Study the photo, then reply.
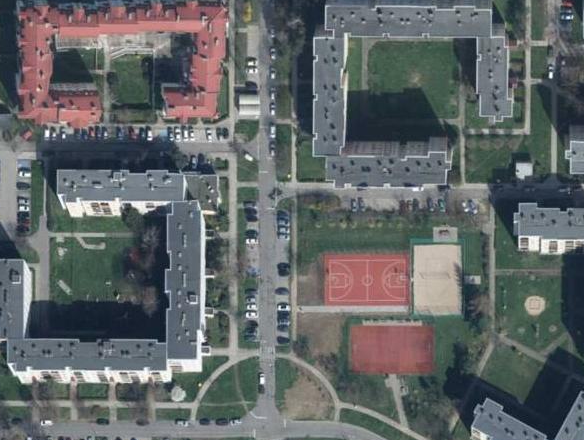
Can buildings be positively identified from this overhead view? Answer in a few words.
Yes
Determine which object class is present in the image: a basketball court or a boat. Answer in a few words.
basketball court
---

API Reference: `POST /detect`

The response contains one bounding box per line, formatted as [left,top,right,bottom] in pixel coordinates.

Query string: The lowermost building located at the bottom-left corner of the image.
[6,339,169,385]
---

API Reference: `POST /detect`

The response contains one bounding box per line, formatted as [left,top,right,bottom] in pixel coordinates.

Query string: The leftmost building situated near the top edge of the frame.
[16,0,229,132]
